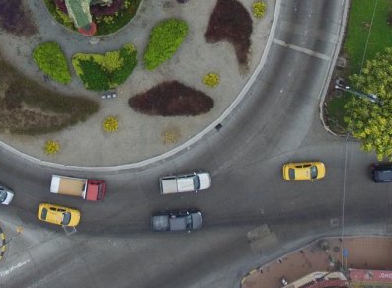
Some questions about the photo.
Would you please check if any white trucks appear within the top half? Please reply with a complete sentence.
No, I can find no white truck within the top half.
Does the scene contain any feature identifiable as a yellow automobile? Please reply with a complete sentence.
Yes, the picture does show a yellow automobile.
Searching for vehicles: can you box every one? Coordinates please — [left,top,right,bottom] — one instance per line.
[281,160,327,182]
[36,200,83,232]
[158,170,212,194]
[151,209,204,232]
[0,184,20,208]
[49,173,108,202]
[370,162,392,182]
